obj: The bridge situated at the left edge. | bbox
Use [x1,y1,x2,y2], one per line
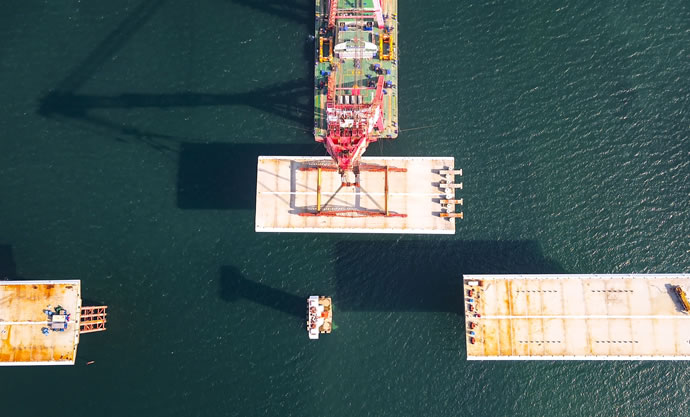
[0,280,82,365]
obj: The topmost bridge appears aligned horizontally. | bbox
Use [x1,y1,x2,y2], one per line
[255,157,456,234]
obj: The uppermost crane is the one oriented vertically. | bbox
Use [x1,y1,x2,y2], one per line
[321,0,386,177]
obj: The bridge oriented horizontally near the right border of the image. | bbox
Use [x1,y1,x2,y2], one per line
[462,274,690,360]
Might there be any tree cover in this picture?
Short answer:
No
